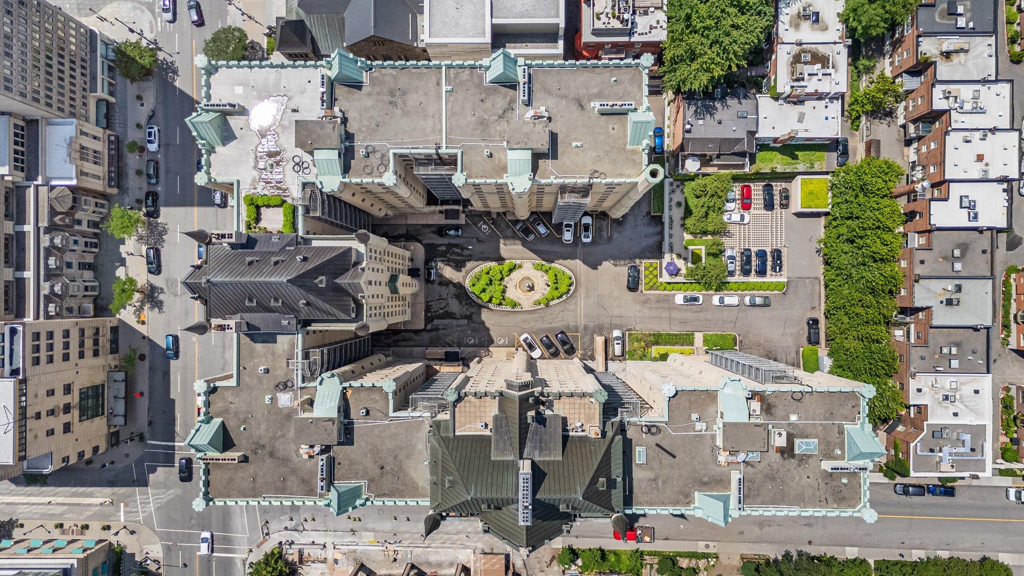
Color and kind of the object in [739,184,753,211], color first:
red car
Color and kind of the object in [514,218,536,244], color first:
black car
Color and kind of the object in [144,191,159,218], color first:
black car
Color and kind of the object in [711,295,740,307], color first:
white vehicle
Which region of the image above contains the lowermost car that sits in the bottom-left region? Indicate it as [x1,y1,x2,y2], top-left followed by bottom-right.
[199,528,213,557]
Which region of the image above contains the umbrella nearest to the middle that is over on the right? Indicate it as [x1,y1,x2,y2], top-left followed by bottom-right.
[663,262,677,274]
